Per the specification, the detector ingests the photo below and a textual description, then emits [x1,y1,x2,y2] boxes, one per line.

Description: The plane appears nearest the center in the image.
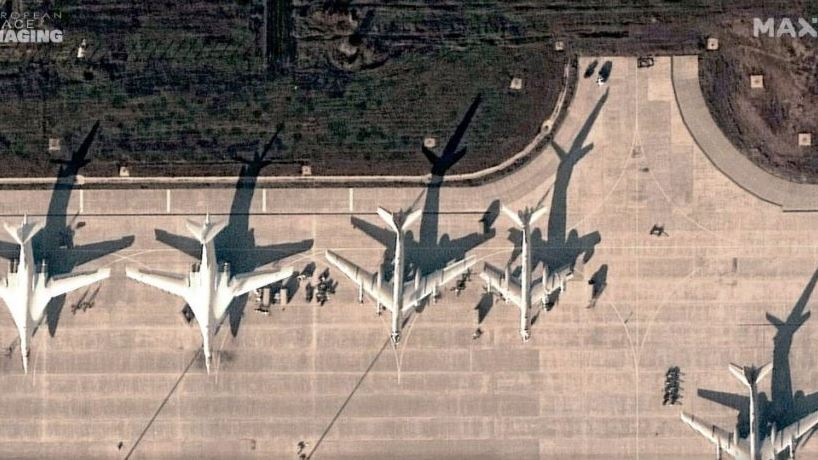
[328,201,471,350]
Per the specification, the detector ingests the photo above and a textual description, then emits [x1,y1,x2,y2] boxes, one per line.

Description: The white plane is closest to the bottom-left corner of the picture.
[0,214,107,373]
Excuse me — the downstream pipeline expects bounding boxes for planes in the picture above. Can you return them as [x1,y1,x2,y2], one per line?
[328,201,471,350]
[682,364,818,460]
[0,214,107,373]
[478,201,571,346]
[128,213,288,375]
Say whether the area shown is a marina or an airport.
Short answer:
airport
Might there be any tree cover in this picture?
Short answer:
No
